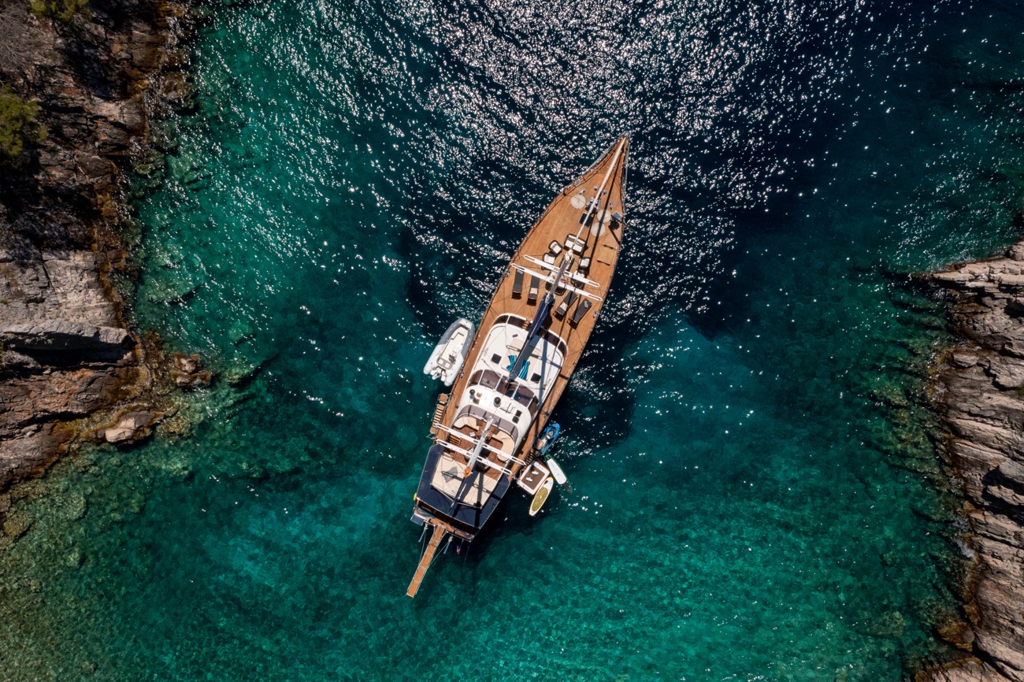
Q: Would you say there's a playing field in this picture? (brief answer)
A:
No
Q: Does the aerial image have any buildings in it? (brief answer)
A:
No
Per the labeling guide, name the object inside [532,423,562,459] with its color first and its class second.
blue boat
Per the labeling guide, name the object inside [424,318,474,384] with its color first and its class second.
white boat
